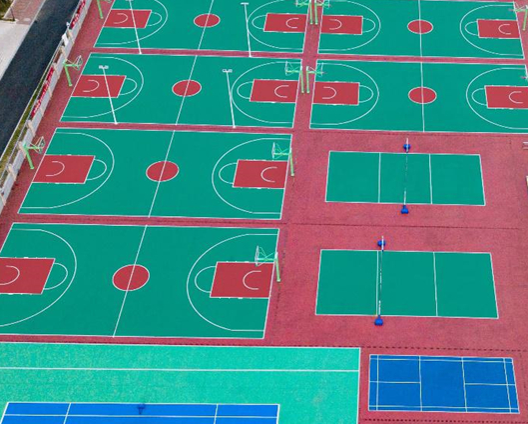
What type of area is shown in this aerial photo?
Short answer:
sports ground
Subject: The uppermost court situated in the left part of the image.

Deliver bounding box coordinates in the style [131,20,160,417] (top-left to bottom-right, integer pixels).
[94,0,310,53]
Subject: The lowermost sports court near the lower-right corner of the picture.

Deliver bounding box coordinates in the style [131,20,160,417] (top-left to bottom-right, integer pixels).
[368,356,519,413]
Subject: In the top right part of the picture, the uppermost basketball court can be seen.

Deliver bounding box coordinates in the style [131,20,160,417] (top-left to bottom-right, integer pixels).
[318,0,525,59]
